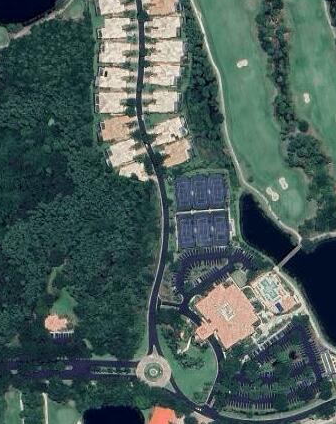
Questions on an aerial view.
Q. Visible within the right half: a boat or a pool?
pool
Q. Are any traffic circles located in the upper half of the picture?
No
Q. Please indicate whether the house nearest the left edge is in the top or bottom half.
bottom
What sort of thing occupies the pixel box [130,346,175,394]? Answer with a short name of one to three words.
roundabout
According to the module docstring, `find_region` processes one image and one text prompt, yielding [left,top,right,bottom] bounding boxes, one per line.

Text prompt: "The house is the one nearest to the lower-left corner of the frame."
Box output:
[43,314,67,333]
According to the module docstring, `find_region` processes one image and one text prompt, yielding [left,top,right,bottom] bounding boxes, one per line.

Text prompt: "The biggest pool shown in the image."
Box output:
[251,272,302,316]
